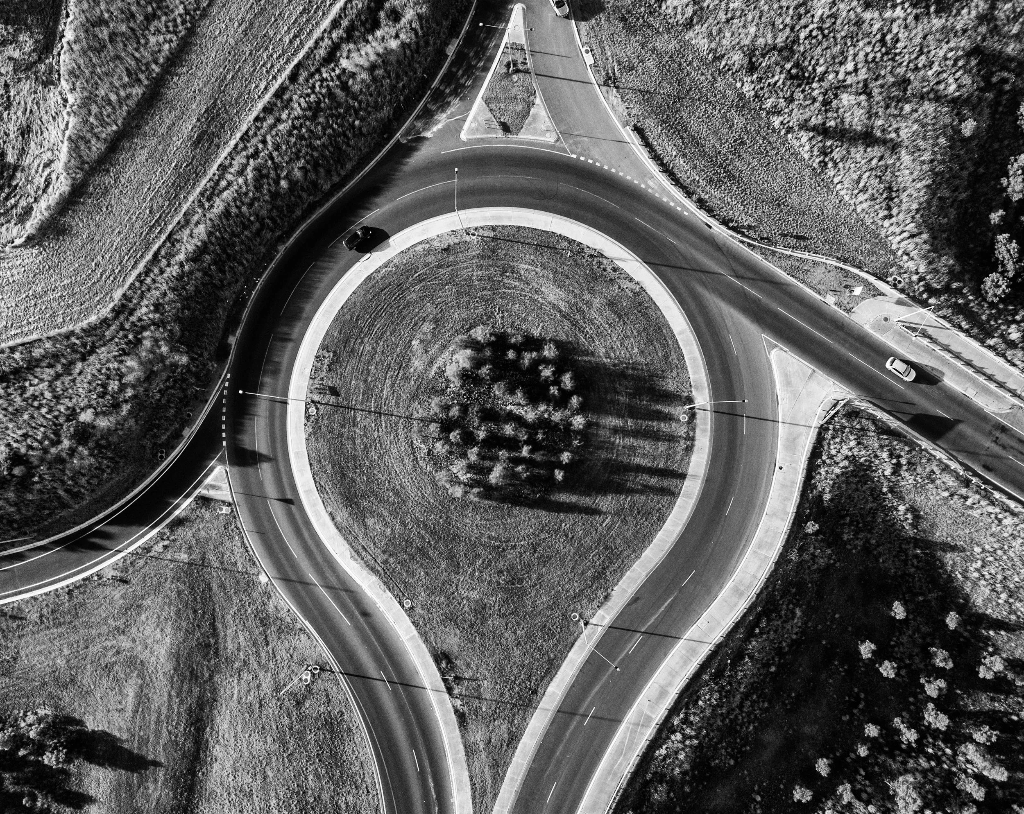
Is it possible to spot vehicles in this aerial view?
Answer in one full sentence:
Yes, I can see a vehicle in this picture.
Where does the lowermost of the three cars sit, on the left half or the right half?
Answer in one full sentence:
You can find the lowermost of the three cars on the right side of the picture.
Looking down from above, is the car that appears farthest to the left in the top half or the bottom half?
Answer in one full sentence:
The car that appears farthest to the left sits in the top half of the picture.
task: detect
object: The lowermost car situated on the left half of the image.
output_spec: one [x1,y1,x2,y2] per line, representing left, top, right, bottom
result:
[342,223,374,252]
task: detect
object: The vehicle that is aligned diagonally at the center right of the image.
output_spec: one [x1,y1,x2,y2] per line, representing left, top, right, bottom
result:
[881,355,916,383]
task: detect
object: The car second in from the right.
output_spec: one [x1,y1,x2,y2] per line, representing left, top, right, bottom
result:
[545,0,567,20]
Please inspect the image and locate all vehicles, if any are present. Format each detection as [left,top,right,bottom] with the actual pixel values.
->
[881,355,916,383]
[342,223,374,252]
[545,0,567,20]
